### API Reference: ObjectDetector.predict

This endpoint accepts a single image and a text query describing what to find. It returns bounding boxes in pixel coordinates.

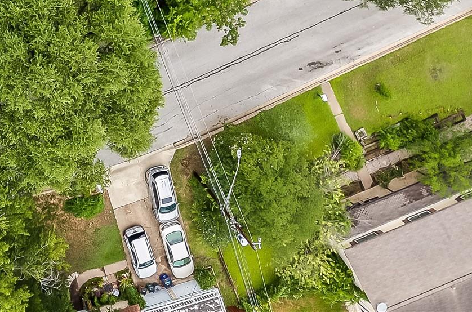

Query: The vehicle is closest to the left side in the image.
[123,225,161,286]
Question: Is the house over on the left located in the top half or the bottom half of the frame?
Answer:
bottom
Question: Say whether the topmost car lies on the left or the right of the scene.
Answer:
left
